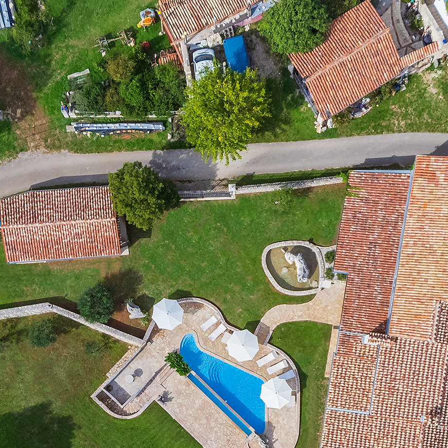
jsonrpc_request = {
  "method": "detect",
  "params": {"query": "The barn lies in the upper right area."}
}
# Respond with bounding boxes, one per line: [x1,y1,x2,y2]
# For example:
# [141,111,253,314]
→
[286,0,440,127]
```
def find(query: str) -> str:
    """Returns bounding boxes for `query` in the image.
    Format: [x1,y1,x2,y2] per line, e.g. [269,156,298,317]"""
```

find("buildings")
[319,156,448,448]
[0,184,122,265]
[158,0,258,65]
[286,0,440,127]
